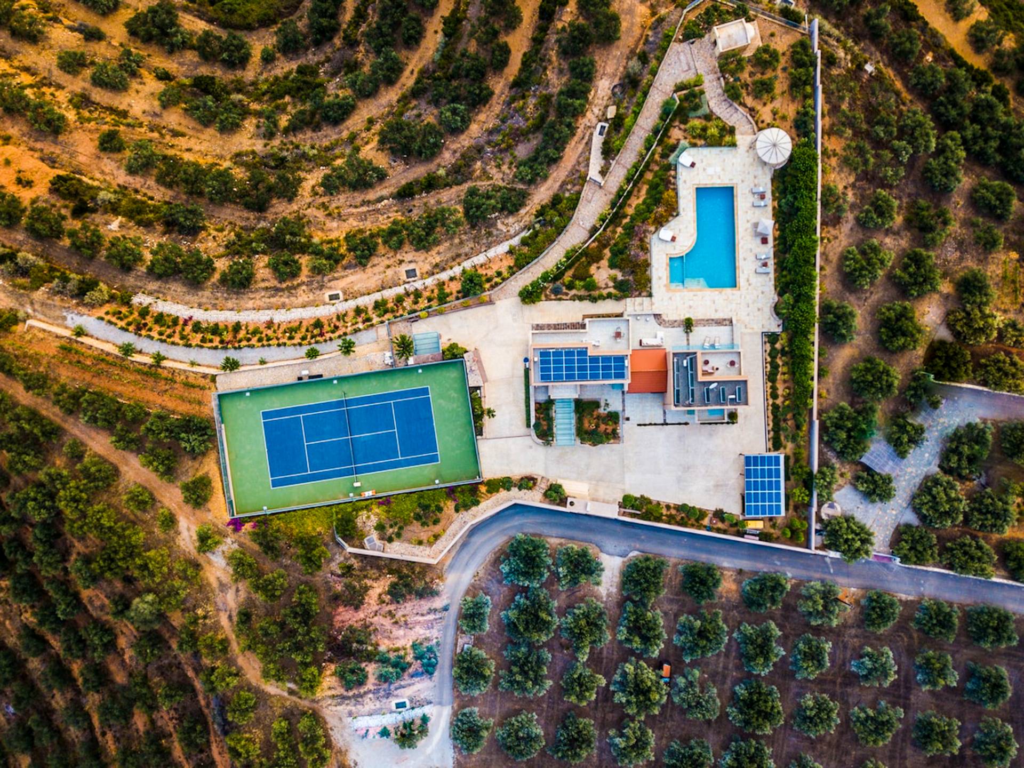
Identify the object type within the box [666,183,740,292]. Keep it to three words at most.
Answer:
swimming pool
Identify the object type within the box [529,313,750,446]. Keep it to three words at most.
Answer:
house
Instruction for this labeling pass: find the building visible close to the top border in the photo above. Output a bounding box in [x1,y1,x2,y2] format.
[707,18,753,63]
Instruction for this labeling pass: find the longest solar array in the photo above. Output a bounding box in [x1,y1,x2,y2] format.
[539,349,626,381]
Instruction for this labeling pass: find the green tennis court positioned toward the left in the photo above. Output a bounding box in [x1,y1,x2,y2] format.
[219,361,480,514]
